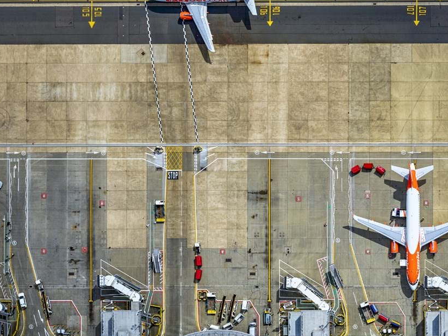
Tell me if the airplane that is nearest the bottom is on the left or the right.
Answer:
right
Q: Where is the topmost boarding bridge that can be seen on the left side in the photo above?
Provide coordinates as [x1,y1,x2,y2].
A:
[98,275,146,301]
